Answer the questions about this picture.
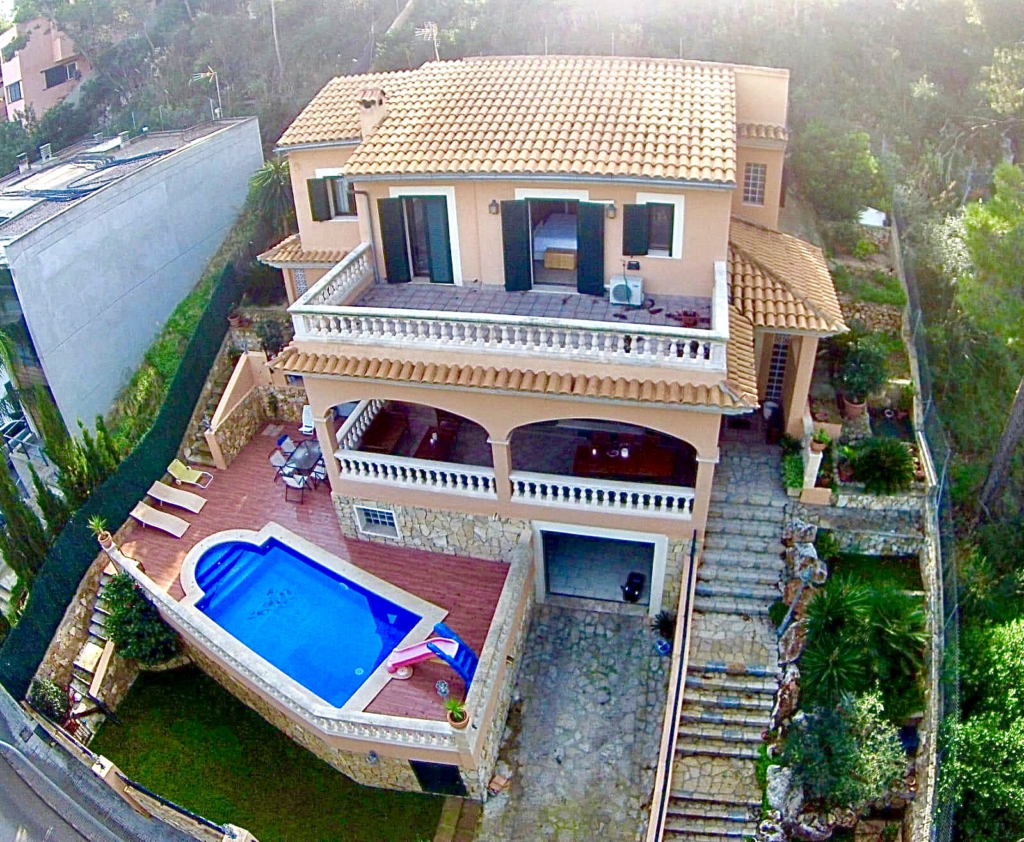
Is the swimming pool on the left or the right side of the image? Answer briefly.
left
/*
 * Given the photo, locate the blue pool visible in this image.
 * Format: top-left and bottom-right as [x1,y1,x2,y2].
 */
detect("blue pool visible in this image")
[173,528,441,709]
